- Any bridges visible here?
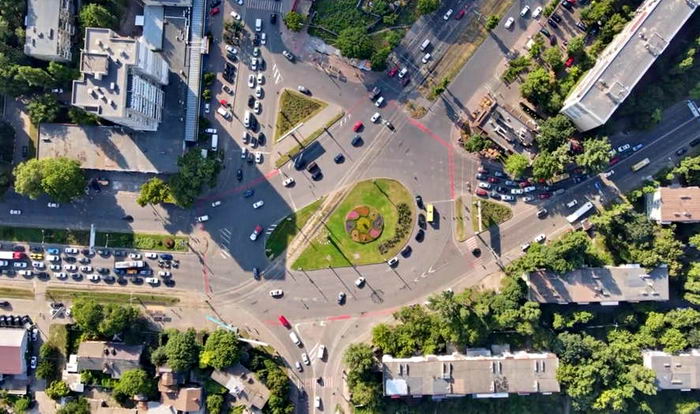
No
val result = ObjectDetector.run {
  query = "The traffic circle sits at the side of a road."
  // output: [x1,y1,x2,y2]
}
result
[266,180,414,271]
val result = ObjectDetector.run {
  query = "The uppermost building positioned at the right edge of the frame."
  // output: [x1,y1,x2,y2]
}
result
[558,0,700,131]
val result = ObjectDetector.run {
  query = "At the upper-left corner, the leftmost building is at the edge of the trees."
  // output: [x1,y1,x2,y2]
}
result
[23,0,81,67]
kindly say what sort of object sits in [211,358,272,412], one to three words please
house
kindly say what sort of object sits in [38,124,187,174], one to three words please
building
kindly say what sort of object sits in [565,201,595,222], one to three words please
bus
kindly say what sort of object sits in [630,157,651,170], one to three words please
vehicle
